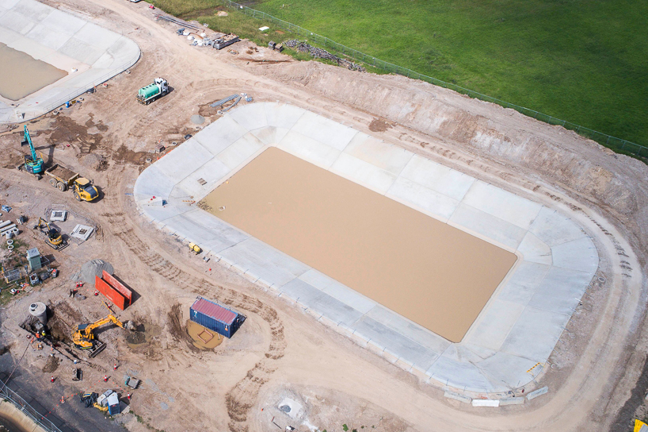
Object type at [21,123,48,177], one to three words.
work vehicle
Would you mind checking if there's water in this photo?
Yes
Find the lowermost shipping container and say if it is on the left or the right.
left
